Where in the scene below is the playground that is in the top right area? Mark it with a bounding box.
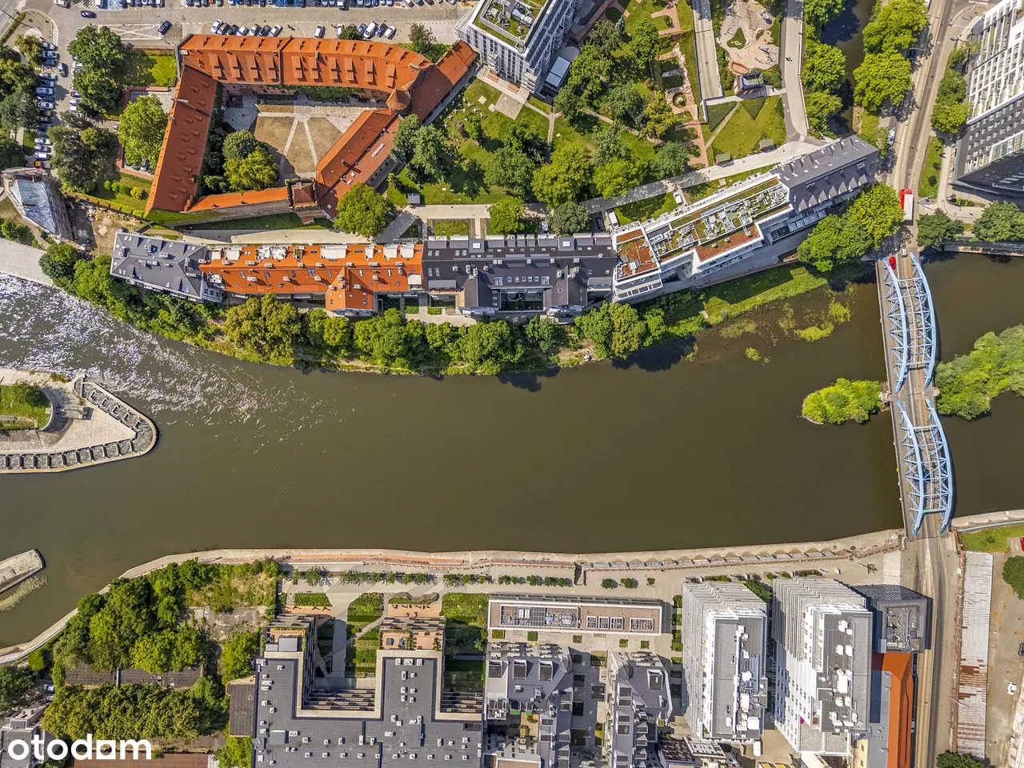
[721,0,779,72]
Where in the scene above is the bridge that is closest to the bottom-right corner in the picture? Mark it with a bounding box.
[870,246,958,547]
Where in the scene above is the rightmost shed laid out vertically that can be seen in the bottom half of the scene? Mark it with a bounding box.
[951,550,993,766]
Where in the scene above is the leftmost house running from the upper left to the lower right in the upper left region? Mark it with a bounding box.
[3,168,89,242]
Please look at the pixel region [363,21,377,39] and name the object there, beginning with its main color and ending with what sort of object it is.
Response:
white vehicle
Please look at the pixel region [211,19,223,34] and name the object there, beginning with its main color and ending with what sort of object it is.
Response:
white vehicle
